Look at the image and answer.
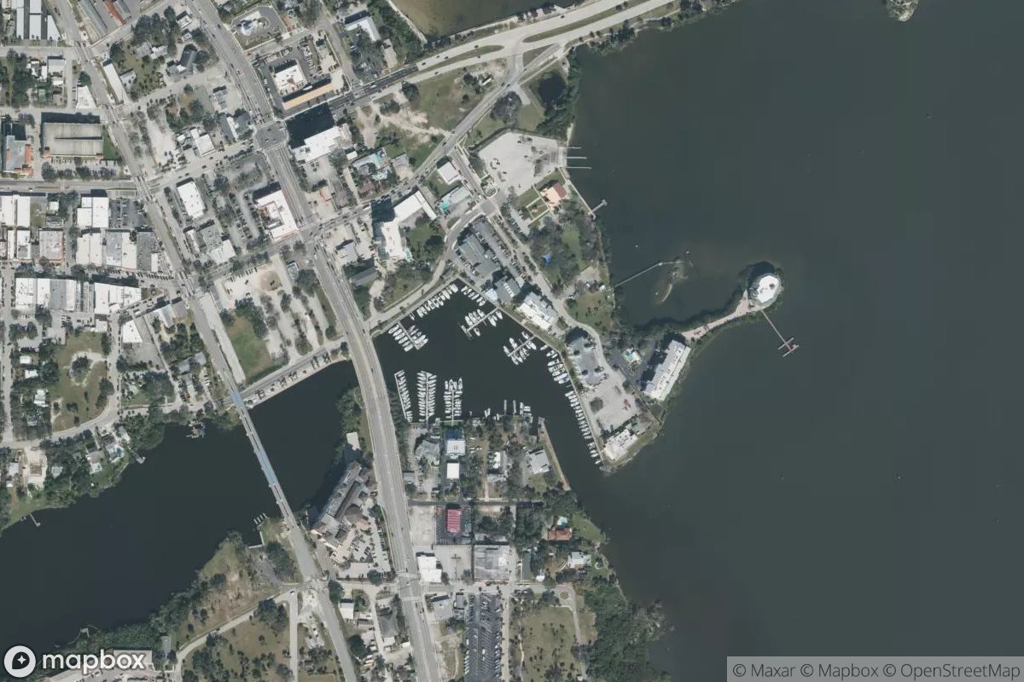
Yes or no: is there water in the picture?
Yes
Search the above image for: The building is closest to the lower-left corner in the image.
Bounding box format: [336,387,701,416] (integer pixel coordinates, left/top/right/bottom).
[113,650,159,672]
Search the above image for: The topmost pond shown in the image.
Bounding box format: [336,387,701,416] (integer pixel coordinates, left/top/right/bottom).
[394,0,571,41]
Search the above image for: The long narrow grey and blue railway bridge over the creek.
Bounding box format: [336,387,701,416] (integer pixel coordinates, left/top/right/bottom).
[227,387,293,518]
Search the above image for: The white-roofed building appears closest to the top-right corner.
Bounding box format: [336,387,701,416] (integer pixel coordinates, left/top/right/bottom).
[757,275,781,303]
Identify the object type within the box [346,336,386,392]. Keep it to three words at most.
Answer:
bridge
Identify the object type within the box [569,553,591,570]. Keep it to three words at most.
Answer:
house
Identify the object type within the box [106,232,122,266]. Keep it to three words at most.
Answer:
building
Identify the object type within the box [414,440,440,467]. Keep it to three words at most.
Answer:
building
